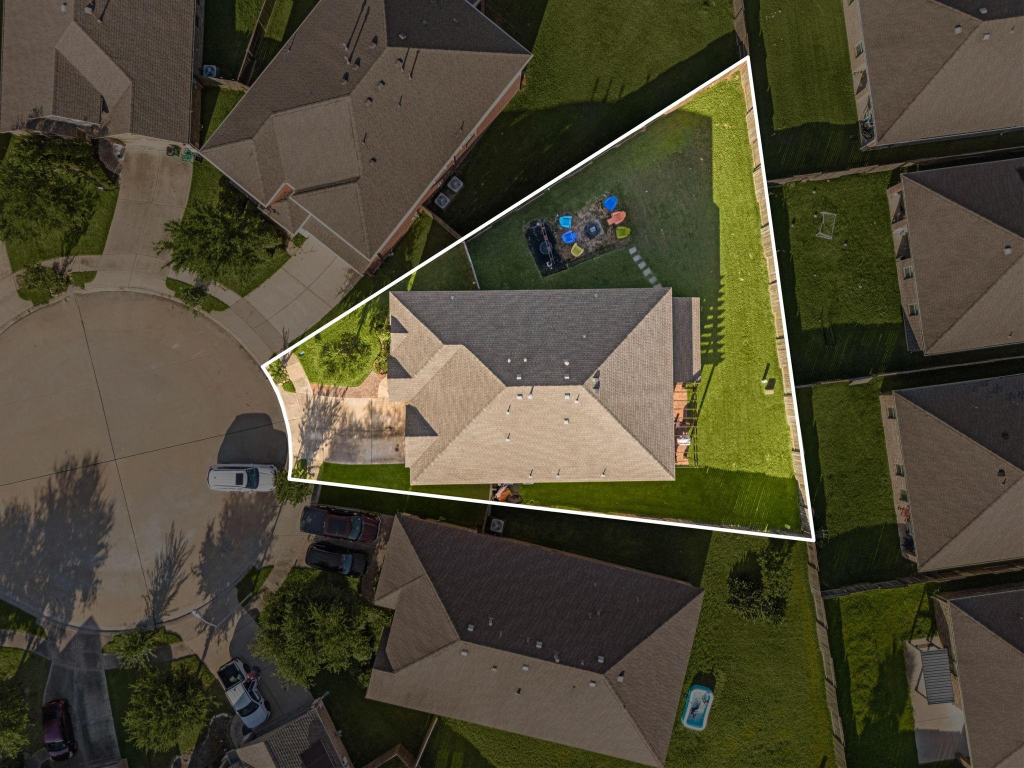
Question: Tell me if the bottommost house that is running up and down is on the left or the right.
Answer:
right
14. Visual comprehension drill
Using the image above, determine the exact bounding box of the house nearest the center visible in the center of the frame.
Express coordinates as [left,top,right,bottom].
[388,287,677,486]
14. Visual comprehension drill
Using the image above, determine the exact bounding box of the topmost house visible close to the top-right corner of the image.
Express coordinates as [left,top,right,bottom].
[844,0,1024,150]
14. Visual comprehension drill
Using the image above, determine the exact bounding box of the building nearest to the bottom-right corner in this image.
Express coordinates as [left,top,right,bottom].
[934,582,1024,768]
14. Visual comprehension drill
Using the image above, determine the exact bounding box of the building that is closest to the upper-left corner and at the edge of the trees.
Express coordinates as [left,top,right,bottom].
[0,0,206,160]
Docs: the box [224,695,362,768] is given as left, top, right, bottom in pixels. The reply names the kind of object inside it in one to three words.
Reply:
house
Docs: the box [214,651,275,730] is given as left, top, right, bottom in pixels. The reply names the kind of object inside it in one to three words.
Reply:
truck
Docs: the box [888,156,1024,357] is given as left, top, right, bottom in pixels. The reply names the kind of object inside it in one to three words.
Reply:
house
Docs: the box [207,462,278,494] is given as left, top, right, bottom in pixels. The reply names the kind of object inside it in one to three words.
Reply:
car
